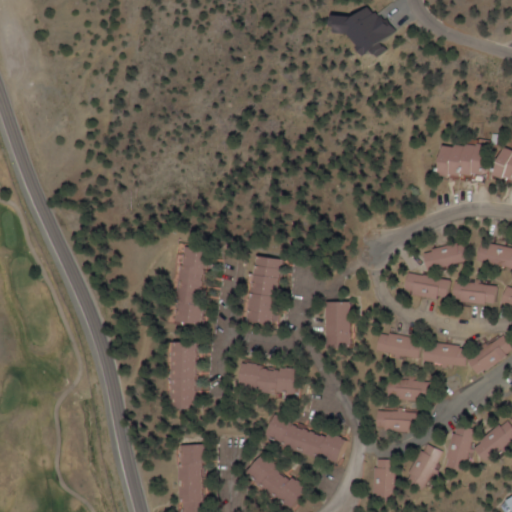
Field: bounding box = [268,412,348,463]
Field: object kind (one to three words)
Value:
building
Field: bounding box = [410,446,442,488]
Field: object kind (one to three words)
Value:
house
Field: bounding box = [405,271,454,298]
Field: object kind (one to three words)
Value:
house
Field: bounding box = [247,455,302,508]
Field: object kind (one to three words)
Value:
building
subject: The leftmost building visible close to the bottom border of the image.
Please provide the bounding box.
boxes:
[177,444,206,512]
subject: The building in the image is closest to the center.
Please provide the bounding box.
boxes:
[246,256,285,324]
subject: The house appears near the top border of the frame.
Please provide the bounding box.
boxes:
[328,4,396,56]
